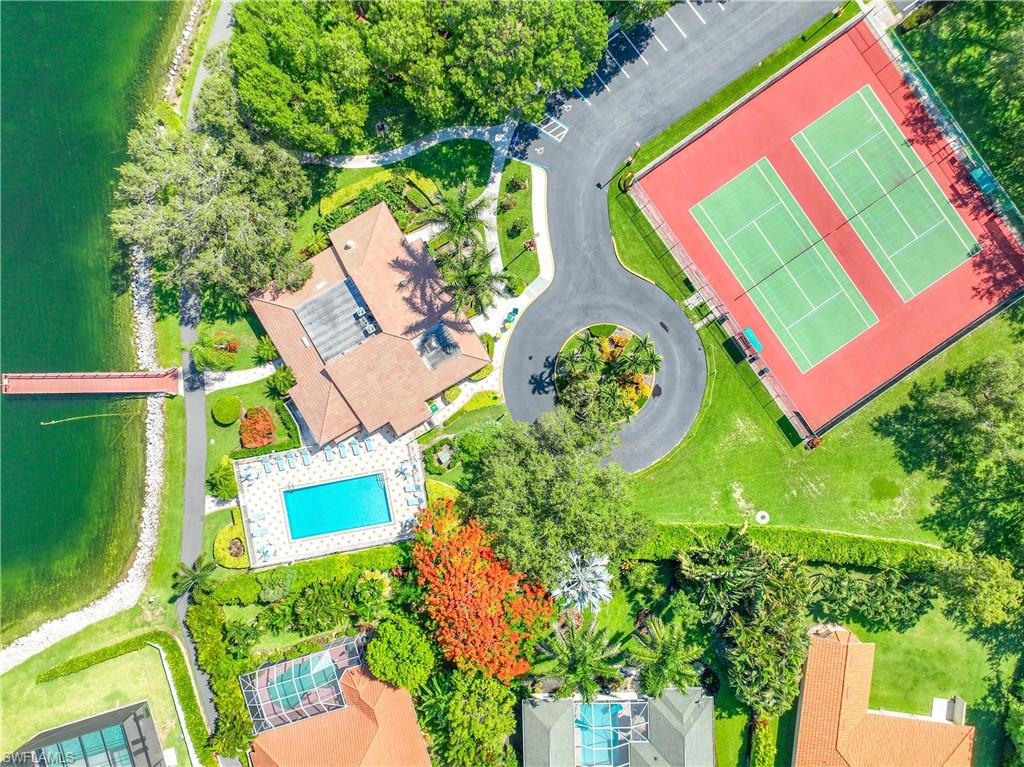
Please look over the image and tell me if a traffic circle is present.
Yes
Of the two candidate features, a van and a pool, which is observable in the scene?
pool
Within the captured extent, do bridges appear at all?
No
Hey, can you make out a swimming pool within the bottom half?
Yes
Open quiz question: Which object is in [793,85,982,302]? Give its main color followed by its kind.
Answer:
green tennis court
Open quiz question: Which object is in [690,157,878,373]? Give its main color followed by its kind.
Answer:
green tennis court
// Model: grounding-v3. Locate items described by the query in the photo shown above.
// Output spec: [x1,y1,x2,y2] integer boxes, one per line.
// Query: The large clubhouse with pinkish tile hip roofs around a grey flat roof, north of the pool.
[248,203,491,446]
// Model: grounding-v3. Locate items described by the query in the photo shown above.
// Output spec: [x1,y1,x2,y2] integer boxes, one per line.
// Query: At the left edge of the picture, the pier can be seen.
[1,366,178,397]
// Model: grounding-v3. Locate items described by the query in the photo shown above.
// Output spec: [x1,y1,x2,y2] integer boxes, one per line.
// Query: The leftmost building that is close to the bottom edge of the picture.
[239,634,432,767]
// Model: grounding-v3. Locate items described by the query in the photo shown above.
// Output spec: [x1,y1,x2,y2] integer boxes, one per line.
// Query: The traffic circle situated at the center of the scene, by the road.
[554,324,654,419]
